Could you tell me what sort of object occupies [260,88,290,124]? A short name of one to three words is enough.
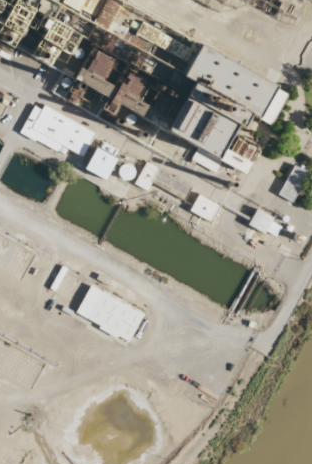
building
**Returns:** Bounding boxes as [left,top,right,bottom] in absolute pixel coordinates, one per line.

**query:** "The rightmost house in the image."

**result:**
[278,164,308,203]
